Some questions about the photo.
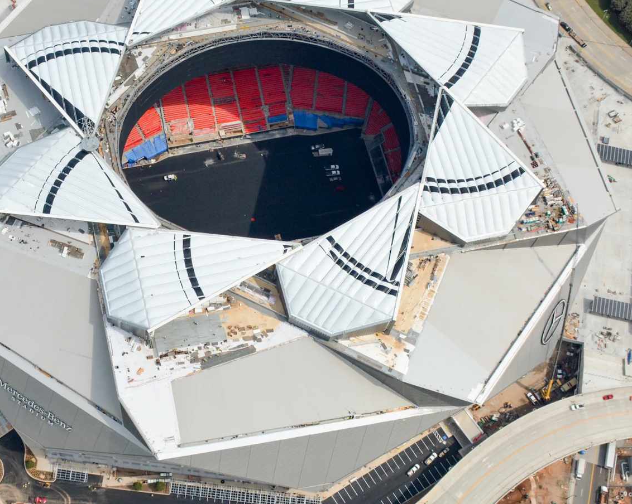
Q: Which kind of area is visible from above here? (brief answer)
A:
sports ground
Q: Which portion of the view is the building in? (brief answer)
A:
bottom right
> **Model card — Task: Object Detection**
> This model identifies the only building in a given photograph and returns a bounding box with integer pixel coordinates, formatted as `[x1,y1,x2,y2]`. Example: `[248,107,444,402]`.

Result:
[441,413,486,453]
